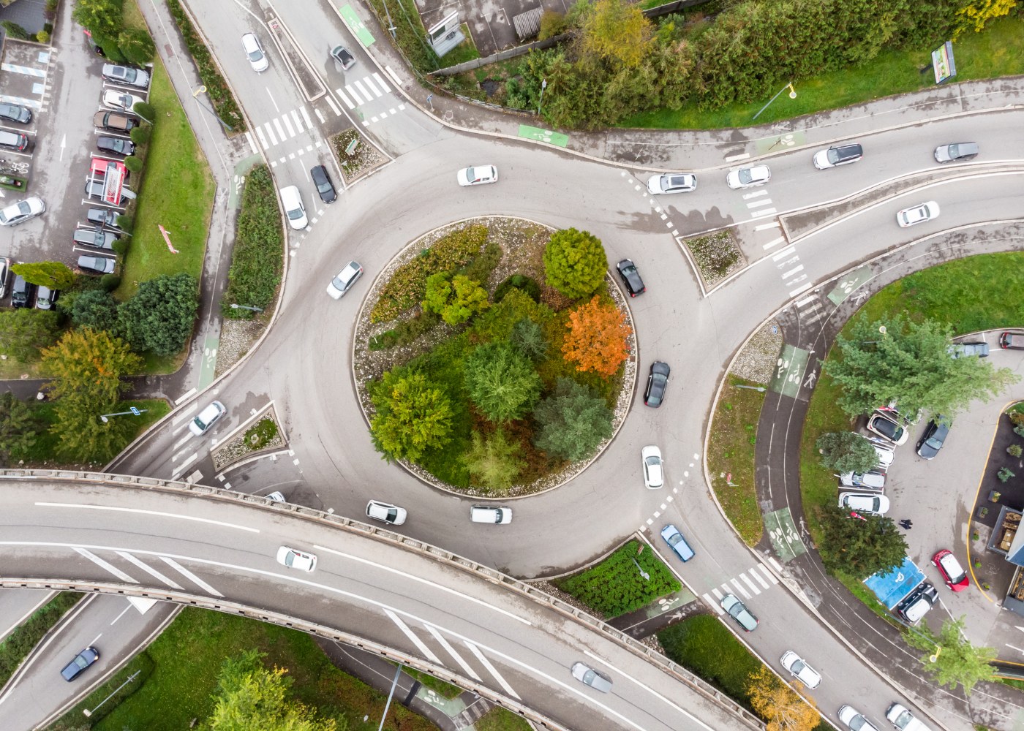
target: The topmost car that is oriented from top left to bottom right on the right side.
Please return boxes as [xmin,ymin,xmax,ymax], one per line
[615,258,647,298]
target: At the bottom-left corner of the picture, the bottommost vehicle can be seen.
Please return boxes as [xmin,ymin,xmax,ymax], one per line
[57,644,101,686]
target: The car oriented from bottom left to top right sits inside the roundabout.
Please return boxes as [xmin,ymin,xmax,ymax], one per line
[324,257,367,300]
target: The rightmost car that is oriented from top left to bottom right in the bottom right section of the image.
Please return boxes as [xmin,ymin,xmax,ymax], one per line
[931,547,970,594]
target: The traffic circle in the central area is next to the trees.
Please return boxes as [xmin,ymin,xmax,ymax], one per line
[218,146,705,568]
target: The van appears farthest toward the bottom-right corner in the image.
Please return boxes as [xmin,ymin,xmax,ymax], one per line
[882,699,929,731]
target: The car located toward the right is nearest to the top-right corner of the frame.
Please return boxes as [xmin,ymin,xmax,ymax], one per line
[931,140,981,164]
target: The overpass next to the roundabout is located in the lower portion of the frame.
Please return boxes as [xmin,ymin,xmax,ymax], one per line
[0,468,777,731]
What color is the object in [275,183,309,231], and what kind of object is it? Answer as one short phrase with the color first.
white van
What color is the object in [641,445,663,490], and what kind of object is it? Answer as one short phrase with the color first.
white car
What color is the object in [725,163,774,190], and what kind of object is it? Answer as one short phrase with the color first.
white car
